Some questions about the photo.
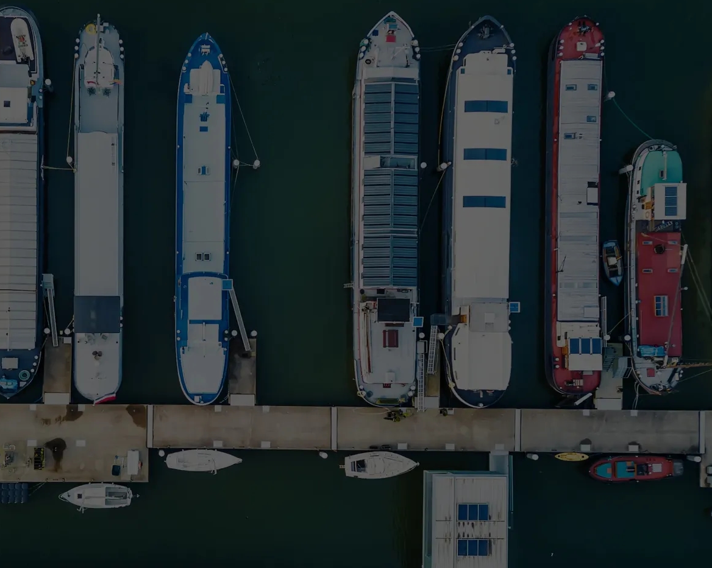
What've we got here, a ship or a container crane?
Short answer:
ship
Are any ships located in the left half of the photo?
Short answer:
Yes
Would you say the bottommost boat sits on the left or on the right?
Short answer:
left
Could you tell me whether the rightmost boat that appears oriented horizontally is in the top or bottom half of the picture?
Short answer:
bottom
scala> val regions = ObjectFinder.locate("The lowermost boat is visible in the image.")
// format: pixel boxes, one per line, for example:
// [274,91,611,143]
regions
[59,482,141,513]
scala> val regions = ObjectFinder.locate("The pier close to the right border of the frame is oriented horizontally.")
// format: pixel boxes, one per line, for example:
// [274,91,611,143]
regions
[521,409,706,454]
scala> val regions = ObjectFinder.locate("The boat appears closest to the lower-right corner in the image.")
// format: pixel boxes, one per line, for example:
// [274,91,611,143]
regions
[587,454,683,482]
